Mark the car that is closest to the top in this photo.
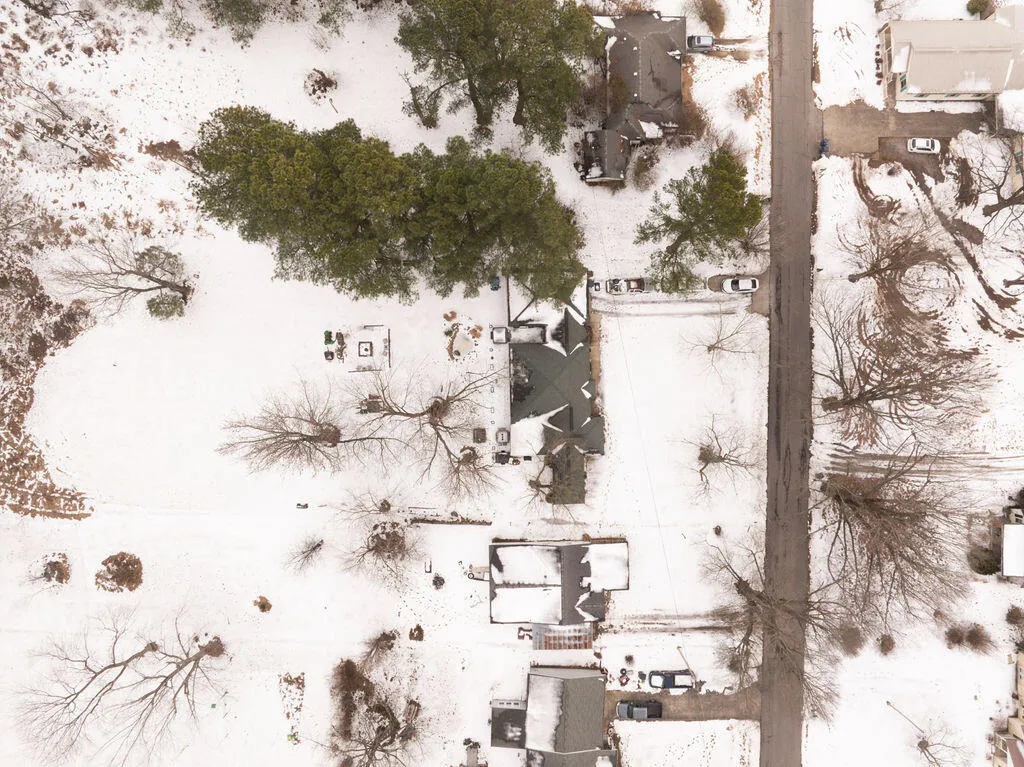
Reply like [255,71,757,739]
[687,32,716,50]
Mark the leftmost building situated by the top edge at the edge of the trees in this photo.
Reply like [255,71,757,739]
[584,10,687,184]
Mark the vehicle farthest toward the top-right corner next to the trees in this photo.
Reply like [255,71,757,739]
[909,136,943,152]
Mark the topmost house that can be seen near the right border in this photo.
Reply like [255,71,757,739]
[881,0,1024,106]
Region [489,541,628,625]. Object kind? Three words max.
house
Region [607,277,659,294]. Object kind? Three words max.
vehicle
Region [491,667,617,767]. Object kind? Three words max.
house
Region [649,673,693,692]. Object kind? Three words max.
vehicle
